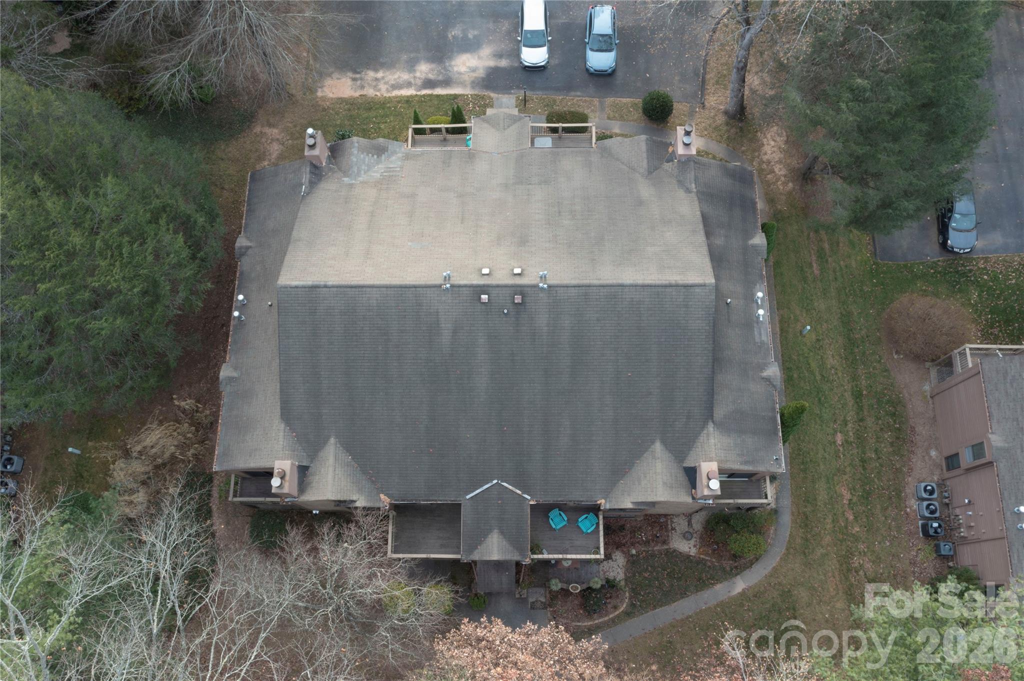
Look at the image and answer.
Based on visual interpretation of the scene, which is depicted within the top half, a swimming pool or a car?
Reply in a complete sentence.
There is a car within the top half.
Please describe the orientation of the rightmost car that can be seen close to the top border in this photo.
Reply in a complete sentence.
What the image shows is the rightmost car that can be seen close to the top border lying up and down.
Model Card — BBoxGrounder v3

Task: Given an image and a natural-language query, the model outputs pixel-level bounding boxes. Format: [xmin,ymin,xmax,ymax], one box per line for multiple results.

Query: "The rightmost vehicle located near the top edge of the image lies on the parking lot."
[583,3,620,78]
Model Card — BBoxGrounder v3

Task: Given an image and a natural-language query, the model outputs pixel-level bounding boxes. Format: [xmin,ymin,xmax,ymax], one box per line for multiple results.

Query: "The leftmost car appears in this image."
[516,0,553,73]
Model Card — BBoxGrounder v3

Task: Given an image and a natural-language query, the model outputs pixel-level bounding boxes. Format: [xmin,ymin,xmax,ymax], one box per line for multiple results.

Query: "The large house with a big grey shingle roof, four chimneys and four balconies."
[212,111,788,581]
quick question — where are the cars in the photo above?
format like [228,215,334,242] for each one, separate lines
[583,3,620,78]
[932,174,983,255]
[516,0,553,73]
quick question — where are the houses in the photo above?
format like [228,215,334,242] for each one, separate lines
[212,111,788,581]
[925,324,1024,681]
